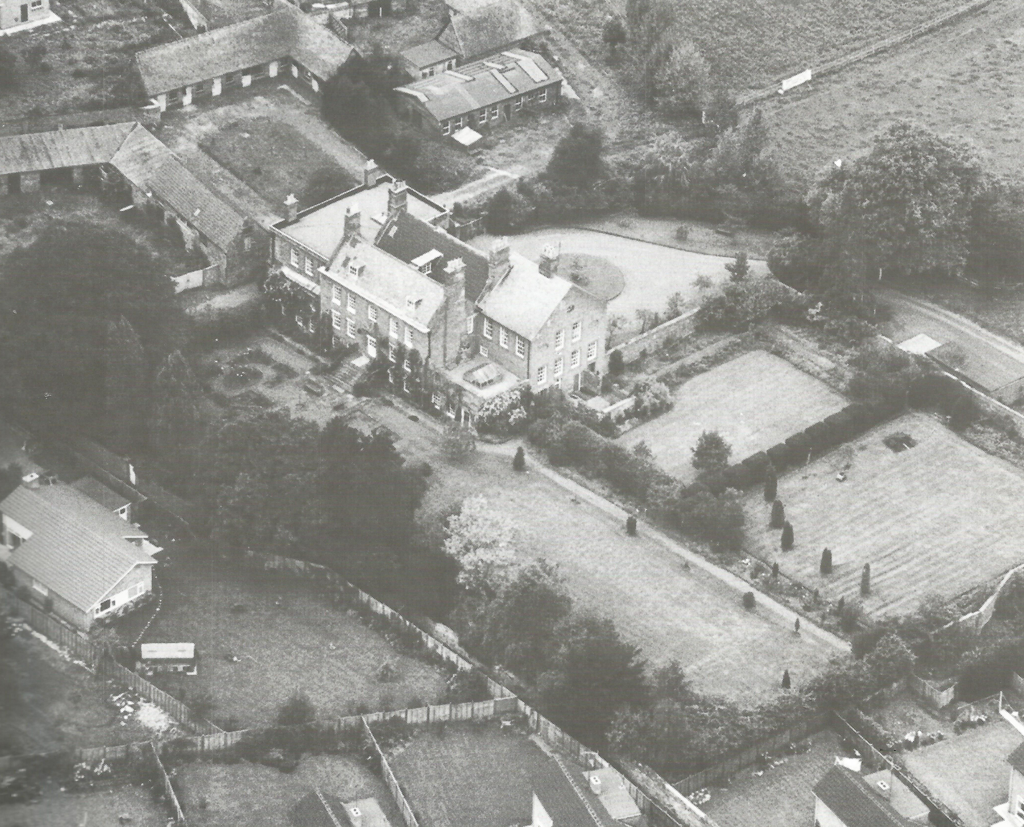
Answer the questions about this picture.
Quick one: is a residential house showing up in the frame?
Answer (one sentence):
Yes, a residential house appears in the view.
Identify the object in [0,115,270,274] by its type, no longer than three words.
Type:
shed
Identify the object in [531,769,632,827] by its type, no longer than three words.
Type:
house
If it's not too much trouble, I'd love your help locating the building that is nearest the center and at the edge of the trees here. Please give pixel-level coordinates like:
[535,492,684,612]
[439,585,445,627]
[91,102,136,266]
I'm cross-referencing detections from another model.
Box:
[268,174,614,439]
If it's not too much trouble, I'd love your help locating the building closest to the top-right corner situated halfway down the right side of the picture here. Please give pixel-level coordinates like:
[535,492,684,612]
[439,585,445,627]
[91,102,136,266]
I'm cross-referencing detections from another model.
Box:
[898,332,941,369]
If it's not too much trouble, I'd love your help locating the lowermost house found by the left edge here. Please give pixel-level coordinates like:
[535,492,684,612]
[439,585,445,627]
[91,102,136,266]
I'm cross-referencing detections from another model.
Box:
[0,475,164,630]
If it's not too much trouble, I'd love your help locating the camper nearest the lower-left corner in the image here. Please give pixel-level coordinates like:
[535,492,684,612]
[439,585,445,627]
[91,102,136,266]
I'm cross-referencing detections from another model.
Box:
[143,642,206,673]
